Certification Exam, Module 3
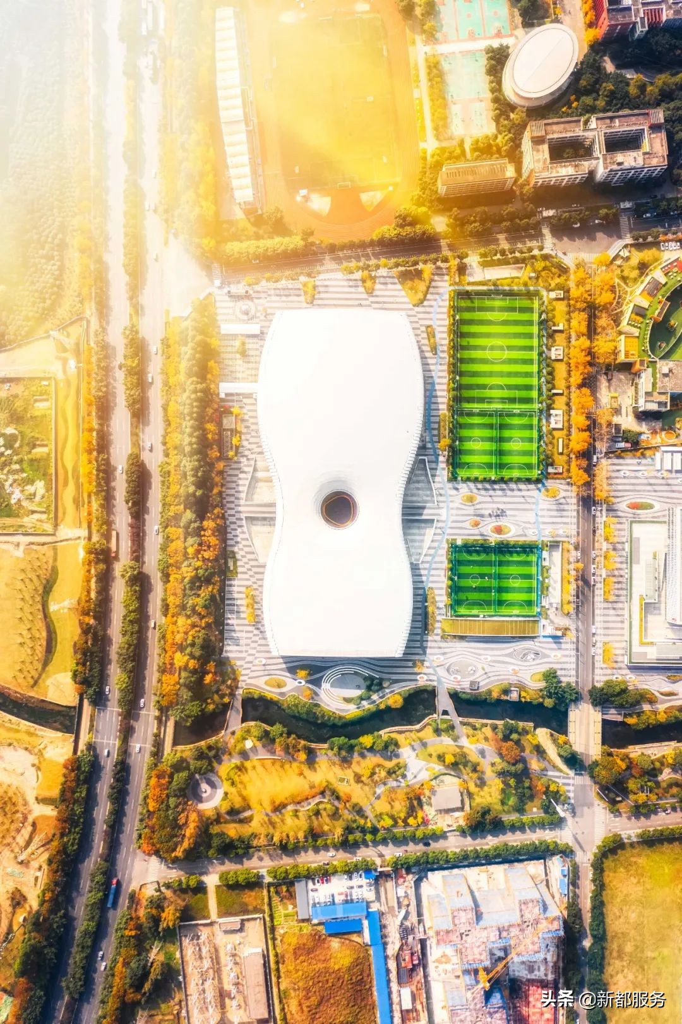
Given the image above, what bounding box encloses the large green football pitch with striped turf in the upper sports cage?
[457,293,540,409]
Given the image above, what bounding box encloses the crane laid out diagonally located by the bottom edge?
[471,906,562,994]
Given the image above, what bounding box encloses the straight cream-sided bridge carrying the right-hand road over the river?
[568,700,603,758]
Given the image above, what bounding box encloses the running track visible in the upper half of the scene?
[255,0,428,238]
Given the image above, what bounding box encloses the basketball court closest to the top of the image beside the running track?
[436,0,515,46]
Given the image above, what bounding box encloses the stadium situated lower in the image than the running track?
[257,306,424,656]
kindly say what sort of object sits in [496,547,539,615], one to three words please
soccer field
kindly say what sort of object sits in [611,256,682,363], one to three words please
building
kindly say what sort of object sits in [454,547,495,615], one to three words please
soccer field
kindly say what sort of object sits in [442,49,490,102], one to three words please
basketball court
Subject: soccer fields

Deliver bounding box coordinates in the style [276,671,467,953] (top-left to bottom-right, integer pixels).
[454,547,495,615]
[496,547,539,615]
[498,411,540,478]
[457,411,496,478]
[457,293,540,409]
